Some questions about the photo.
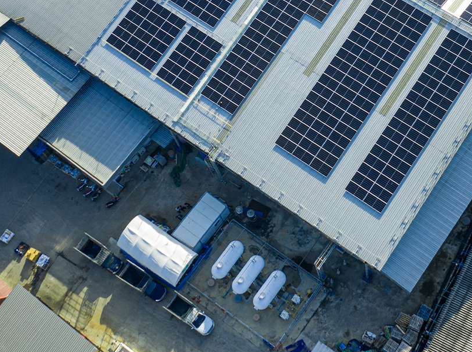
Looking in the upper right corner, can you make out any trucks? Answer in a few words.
No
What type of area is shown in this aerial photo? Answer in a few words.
industrial area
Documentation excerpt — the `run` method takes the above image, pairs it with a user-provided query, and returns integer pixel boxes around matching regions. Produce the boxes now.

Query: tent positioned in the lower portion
[115,214,207,295]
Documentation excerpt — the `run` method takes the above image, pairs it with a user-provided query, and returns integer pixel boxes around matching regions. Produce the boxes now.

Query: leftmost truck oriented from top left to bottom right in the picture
[71,239,125,283]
